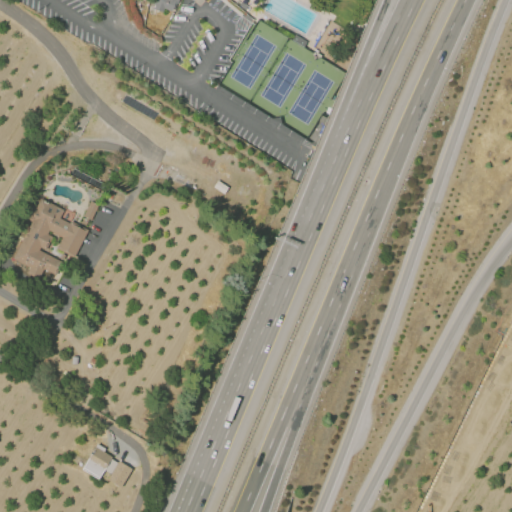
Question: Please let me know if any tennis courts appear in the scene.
Yes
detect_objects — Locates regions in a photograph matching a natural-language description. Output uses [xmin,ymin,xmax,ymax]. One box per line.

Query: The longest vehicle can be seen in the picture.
[224,394,242,428]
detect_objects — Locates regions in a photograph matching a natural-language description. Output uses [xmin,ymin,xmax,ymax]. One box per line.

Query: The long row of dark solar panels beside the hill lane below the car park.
[123,95,158,119]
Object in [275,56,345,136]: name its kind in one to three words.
tennis court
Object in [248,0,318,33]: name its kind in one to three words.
swimming pool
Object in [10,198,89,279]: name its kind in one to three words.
house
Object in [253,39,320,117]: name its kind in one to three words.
tennis court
